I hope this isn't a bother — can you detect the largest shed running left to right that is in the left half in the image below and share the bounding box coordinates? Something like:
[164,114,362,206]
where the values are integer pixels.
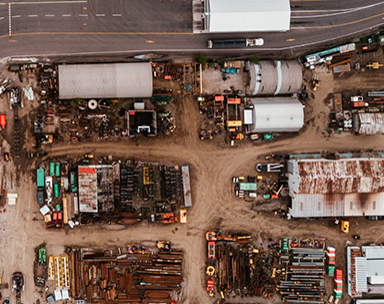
[57,65,155,99]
